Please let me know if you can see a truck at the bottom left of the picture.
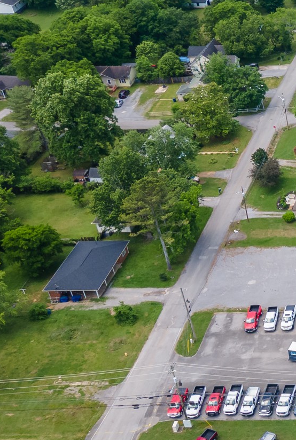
No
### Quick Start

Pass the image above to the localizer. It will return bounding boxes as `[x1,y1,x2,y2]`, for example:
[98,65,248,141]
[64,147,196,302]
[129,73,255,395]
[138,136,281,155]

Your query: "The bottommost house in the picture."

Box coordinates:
[50,287,169,310]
